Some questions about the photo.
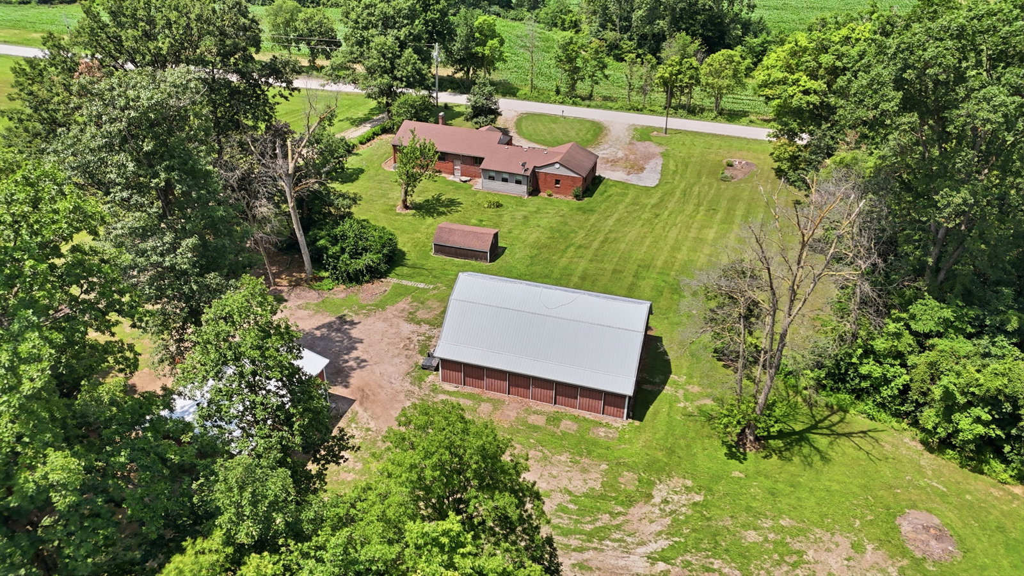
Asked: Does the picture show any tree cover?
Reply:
Yes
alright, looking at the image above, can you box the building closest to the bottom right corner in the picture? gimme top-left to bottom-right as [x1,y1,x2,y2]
[431,267,655,419]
